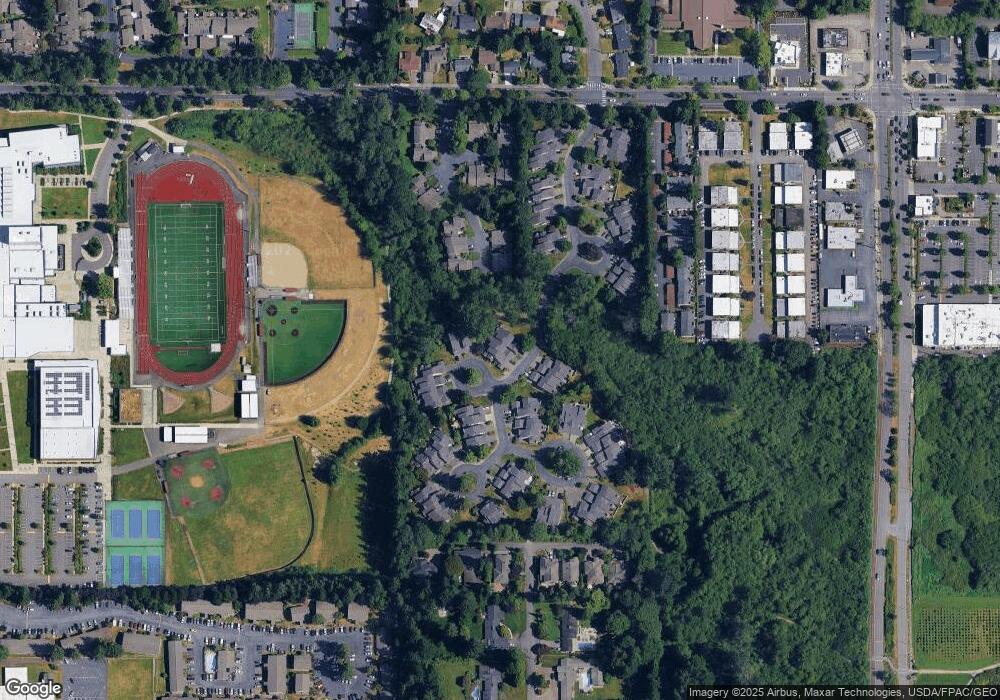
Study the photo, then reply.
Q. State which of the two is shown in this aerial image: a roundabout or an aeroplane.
roundabout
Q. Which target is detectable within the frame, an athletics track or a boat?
athletics track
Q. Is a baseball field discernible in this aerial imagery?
Yes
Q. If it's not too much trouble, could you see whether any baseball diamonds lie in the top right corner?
No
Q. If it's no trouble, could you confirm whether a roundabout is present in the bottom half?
Yes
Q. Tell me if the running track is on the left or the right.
left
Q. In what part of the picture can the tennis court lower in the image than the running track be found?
bottom left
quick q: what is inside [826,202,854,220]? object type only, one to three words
building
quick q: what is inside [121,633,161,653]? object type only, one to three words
building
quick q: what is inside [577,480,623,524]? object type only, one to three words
house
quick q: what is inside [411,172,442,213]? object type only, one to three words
house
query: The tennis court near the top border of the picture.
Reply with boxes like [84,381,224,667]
[295,3,314,49]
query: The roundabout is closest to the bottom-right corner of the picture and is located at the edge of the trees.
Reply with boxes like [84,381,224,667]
[536,439,590,487]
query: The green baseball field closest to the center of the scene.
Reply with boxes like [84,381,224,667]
[264,300,347,386]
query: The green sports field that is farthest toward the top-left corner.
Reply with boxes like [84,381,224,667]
[147,201,227,372]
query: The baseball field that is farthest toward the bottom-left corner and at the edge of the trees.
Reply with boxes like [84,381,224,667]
[161,440,313,584]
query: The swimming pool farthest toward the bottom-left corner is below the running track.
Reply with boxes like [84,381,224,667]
[204,650,217,674]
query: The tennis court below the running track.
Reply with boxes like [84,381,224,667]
[104,500,166,586]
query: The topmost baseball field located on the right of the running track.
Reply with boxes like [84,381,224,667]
[264,238,311,287]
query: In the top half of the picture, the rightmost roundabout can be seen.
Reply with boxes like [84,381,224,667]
[559,233,617,273]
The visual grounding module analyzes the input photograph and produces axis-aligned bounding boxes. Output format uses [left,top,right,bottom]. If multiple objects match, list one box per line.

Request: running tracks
[136,161,245,386]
